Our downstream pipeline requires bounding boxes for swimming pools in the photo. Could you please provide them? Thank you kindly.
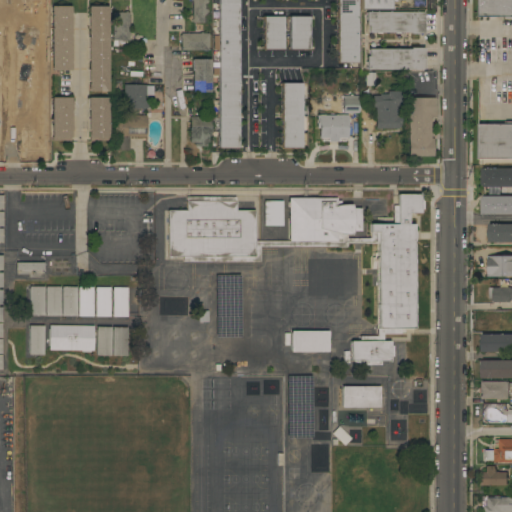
[148,120,162,146]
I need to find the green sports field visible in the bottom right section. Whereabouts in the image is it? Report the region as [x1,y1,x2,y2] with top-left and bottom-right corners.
[332,446,430,512]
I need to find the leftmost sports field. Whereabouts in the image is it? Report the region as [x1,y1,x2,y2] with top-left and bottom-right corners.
[25,376,196,512]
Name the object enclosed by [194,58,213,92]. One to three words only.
house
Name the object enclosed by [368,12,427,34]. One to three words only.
building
